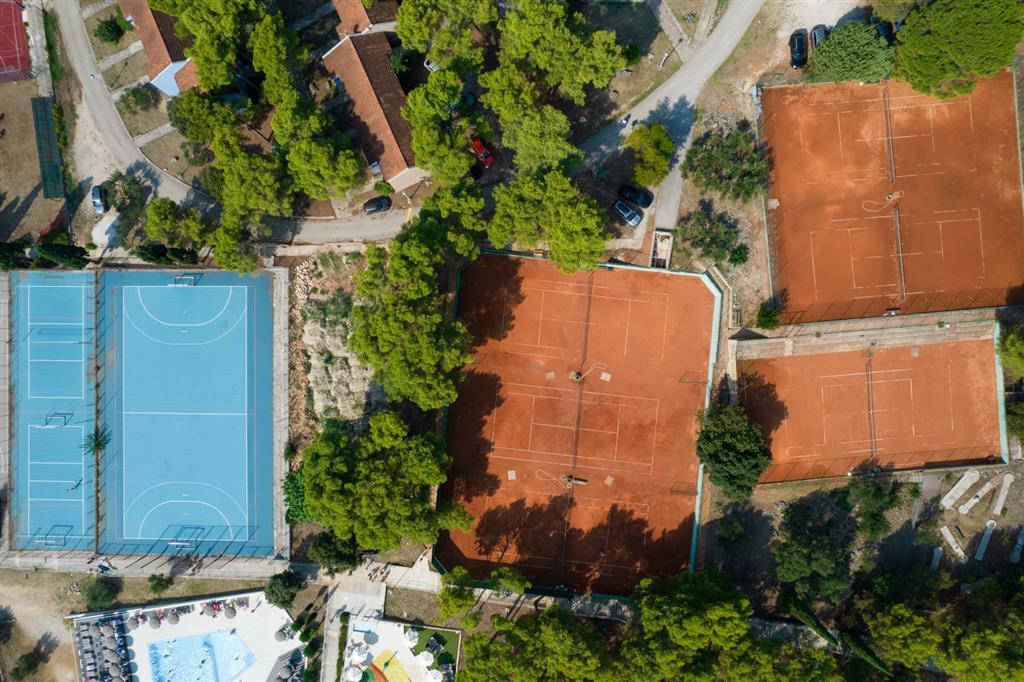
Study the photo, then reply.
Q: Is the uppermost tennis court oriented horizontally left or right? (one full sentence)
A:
It is on the right.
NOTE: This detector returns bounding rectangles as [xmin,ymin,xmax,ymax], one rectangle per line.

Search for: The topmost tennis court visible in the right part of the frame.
[765,68,1022,206]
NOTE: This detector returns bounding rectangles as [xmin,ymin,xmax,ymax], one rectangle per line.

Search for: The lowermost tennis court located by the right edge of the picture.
[738,340,1004,484]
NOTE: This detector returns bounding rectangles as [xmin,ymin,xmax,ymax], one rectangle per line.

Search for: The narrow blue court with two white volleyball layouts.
[10,270,95,552]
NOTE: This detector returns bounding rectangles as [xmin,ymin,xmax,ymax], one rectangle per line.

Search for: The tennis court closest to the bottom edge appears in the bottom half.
[434,453,703,597]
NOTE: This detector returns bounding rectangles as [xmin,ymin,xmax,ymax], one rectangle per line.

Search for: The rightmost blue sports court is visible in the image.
[98,271,274,557]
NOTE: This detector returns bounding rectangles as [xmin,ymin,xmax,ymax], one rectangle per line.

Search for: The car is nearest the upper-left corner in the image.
[87,183,106,213]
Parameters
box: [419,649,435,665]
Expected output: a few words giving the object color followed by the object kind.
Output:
white umbrella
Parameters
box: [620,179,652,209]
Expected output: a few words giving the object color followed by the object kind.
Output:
black car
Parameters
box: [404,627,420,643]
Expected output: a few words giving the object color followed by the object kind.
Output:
white umbrella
